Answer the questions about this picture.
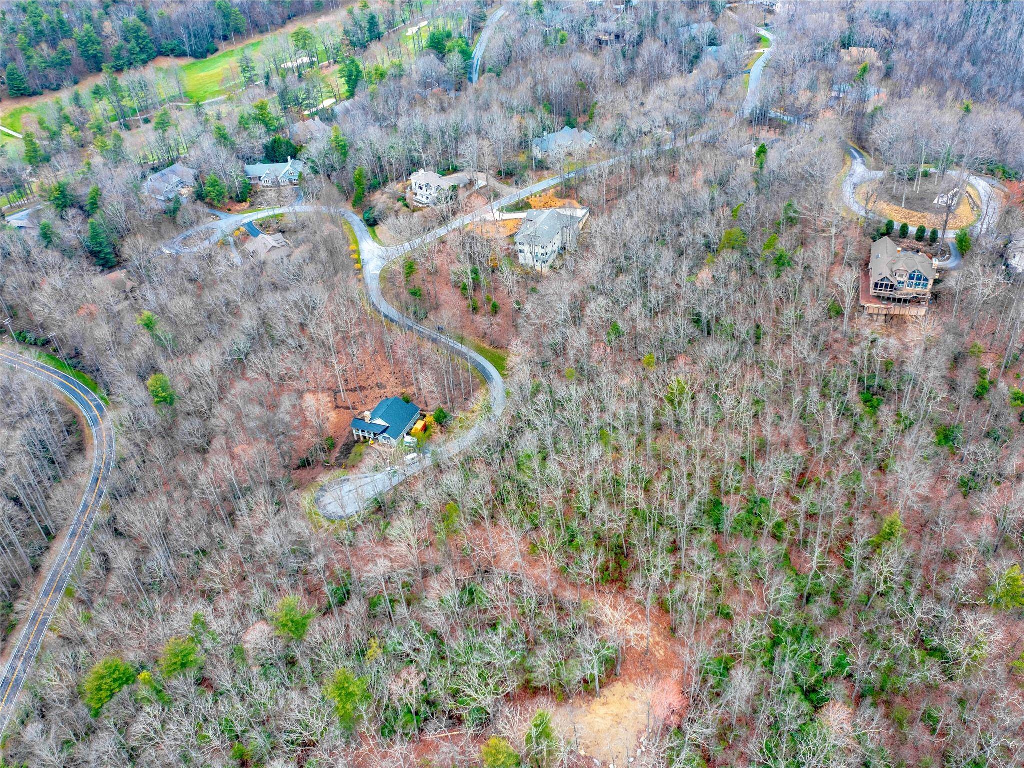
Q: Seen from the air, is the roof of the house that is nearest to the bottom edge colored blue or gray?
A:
blue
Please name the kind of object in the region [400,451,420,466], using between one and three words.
vehicle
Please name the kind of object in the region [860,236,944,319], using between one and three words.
house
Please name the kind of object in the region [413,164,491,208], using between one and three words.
house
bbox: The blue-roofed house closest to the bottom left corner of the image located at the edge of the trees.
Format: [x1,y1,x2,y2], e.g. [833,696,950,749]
[346,394,423,448]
